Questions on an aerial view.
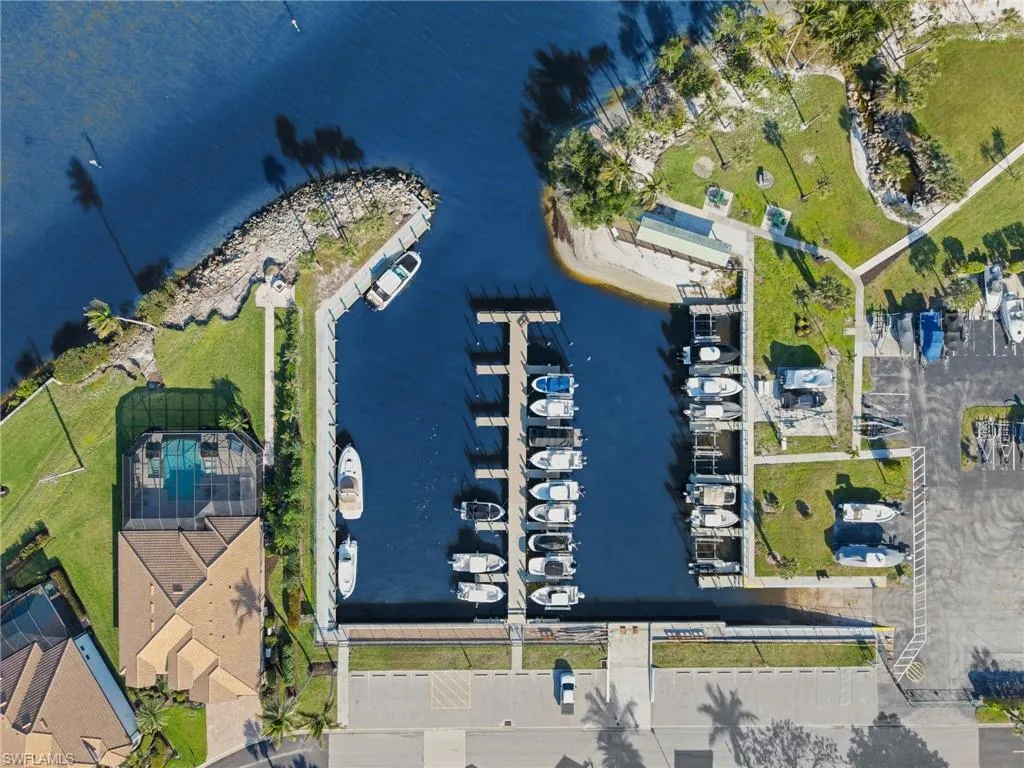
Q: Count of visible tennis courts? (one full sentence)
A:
I count no tennis courts.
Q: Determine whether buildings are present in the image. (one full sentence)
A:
Yes, the image includes a building.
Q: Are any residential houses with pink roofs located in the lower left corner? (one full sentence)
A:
No, there is no residential house with a pink roof in the lower left corner.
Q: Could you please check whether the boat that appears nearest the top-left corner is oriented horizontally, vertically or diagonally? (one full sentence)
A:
What the image shows is the boat that appears nearest the top-left corner lying diagonally.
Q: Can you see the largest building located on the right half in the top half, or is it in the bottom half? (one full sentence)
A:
It is in the top half that the largest building located on the right half appears.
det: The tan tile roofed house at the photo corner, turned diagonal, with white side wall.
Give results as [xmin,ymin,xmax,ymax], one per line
[0,635,134,768]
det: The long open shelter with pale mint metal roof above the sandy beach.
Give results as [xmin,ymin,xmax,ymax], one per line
[612,216,736,270]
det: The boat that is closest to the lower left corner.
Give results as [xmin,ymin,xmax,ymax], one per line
[339,536,356,600]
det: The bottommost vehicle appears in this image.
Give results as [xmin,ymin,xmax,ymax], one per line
[559,672,576,714]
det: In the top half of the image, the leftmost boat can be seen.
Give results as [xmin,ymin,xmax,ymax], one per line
[362,254,418,316]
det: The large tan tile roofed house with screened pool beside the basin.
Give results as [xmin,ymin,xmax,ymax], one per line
[118,519,267,707]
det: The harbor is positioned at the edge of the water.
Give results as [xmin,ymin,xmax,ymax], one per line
[315,206,896,646]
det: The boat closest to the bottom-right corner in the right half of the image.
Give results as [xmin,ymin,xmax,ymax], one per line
[830,546,901,567]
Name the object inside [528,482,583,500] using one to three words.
boat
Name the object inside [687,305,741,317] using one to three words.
pier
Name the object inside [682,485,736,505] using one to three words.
boat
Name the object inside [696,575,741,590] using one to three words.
pier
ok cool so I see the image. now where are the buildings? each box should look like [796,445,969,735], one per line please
[118,519,267,707]
[612,216,736,270]
[0,635,134,768]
